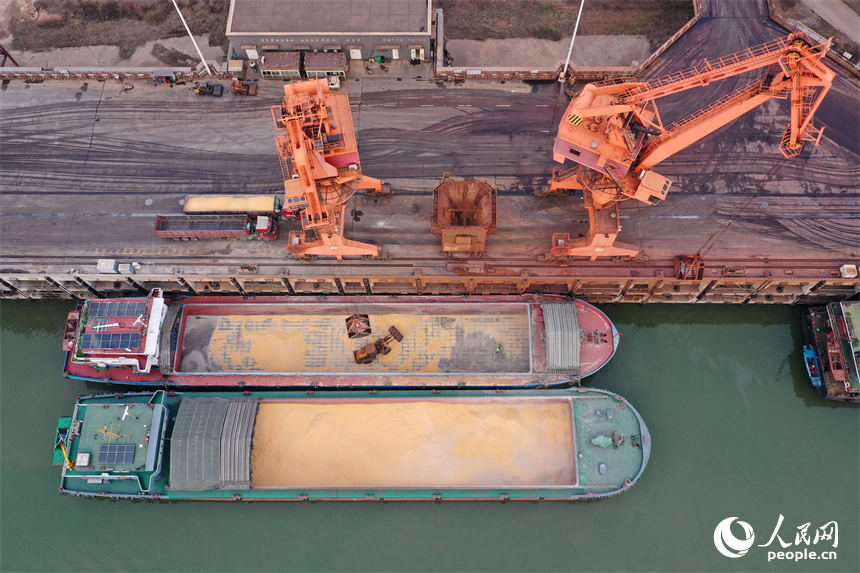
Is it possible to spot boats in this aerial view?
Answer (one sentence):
Yes, a boat appears in the view.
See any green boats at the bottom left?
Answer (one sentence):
Yes, the scene does show a green boat at the bottom left.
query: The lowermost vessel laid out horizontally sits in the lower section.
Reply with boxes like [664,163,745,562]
[51,387,653,501]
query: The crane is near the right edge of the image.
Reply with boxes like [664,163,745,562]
[538,23,842,263]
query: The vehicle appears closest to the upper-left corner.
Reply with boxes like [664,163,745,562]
[193,83,229,100]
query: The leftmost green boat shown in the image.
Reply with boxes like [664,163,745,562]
[45,416,76,467]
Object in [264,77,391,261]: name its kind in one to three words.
crane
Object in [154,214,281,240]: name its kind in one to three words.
truck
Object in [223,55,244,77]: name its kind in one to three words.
shed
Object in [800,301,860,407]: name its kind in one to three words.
ship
